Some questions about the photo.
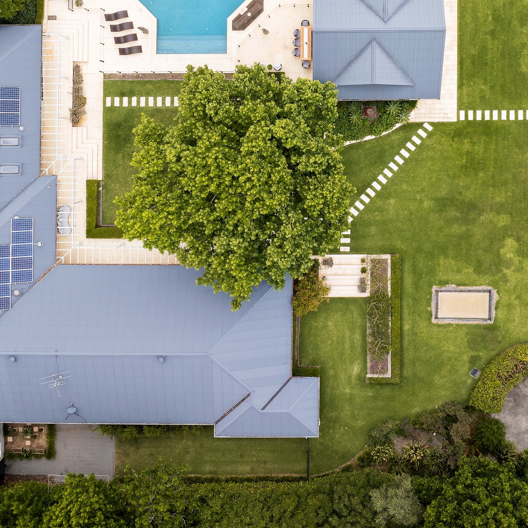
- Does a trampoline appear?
Yes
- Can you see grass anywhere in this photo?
Yes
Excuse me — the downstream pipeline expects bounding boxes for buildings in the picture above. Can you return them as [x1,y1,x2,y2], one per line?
[0,23,322,480]
[312,0,448,101]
